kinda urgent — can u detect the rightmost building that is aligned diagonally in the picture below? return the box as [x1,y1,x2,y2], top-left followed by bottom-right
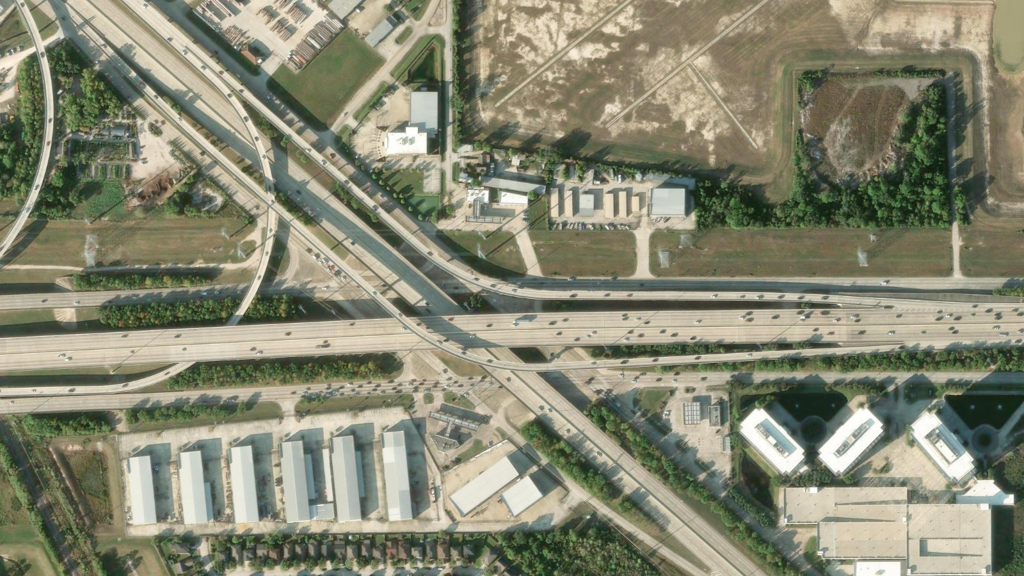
[912,413,974,486]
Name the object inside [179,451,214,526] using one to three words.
building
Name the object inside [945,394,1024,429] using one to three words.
pond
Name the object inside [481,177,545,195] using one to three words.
shed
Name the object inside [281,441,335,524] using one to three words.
building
